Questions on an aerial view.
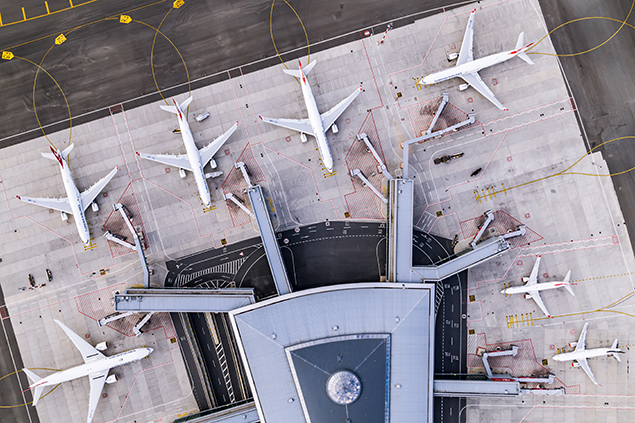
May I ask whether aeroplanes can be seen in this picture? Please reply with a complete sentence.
Yes, an aeroplane is visible in the scene.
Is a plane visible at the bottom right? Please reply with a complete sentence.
Yes, the scene does show a plane at the bottom right.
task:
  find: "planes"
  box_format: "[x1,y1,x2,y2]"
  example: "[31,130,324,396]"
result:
[259,58,363,171]
[16,320,154,423]
[420,7,537,113]
[133,95,238,208]
[500,256,577,319]
[12,141,118,244]
[552,323,628,389]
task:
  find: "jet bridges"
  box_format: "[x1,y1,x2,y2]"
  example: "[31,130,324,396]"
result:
[97,311,140,326]
[439,113,475,136]
[224,192,257,220]
[104,229,146,251]
[350,168,388,205]
[518,381,567,395]
[495,226,525,239]
[425,93,450,134]
[479,344,518,357]
[133,311,159,336]
[468,210,494,246]
[357,133,386,171]
[235,161,255,190]
[113,202,144,242]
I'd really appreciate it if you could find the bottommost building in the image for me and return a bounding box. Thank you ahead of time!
[229,283,435,423]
